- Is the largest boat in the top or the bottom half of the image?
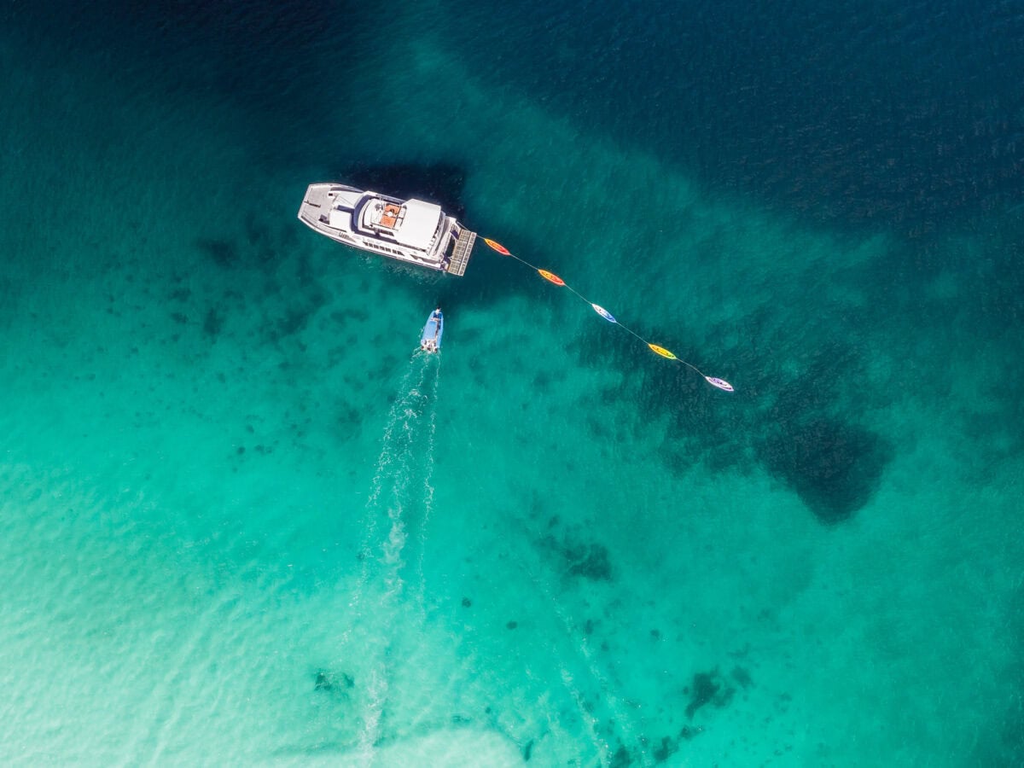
top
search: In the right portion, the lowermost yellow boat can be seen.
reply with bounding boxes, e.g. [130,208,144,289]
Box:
[649,344,677,358]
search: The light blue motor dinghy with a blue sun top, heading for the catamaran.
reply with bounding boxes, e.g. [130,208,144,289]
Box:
[420,311,444,352]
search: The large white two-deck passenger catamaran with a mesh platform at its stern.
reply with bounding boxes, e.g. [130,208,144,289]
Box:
[298,184,477,277]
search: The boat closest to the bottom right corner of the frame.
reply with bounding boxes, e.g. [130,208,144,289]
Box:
[706,377,735,391]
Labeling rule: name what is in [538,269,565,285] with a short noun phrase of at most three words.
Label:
boat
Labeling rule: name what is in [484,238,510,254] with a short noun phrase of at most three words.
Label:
boat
